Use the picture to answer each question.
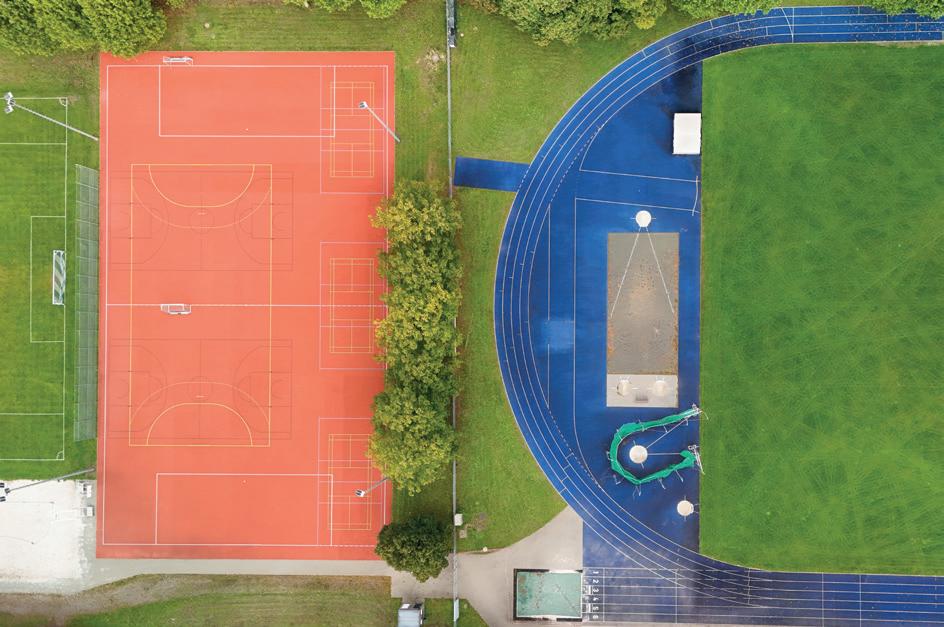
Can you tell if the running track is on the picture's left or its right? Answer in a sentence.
The running track sits on the right side.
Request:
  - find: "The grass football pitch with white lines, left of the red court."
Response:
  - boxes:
[0,96,68,462]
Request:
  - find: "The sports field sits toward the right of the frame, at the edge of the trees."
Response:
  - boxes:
[700,41,944,576]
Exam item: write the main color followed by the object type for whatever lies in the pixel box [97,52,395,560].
red sports court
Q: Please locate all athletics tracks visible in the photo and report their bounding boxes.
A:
[493,6,944,627]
